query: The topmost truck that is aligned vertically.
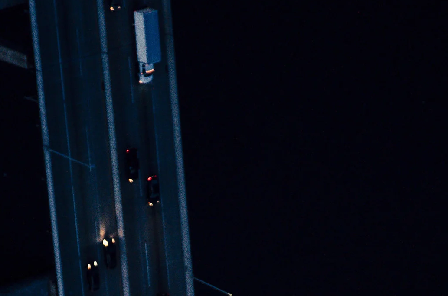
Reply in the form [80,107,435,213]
[131,6,161,82]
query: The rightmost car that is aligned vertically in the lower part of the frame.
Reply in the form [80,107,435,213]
[145,174,160,206]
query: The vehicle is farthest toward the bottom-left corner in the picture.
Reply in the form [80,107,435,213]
[85,262,100,293]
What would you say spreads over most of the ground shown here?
water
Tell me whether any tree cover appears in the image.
No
